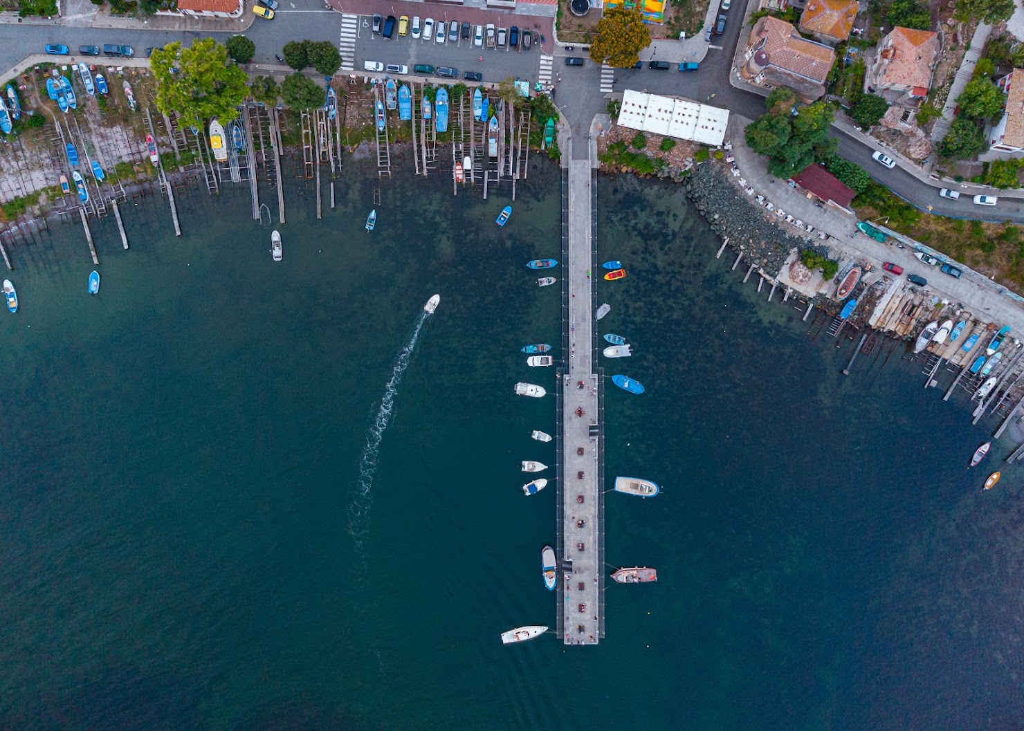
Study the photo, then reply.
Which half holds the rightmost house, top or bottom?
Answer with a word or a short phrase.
top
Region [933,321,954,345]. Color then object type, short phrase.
white boat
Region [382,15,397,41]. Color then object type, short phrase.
blue car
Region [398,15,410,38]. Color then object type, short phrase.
yellow vehicle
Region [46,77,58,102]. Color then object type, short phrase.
blue boat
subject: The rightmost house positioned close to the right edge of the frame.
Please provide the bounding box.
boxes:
[986,68,1024,158]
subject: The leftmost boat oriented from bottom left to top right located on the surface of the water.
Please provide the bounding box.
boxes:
[424,293,440,314]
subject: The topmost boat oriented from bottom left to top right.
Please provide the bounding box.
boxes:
[496,205,512,226]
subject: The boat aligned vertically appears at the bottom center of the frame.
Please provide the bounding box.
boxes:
[542,545,556,591]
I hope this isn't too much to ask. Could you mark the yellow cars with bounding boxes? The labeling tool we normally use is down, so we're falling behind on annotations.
[398,15,410,38]
[251,3,276,22]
